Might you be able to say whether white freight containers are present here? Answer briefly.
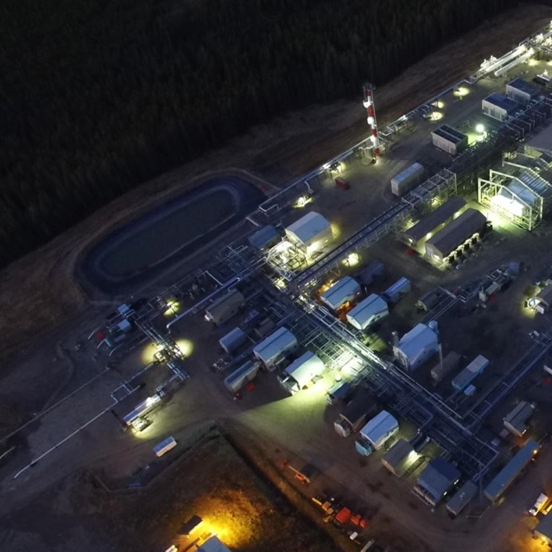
No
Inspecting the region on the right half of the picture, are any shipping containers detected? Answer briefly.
No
